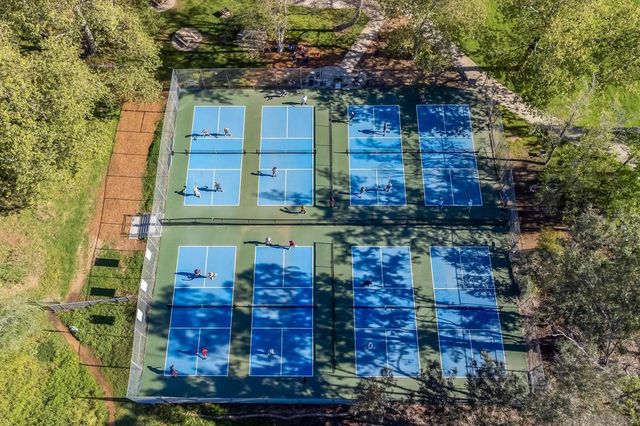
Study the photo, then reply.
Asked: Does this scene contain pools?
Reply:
No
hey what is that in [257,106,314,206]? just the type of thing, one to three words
sports court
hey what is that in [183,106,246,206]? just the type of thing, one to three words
sports court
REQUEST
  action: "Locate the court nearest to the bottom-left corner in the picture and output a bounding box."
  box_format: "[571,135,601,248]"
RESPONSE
[164,246,237,376]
